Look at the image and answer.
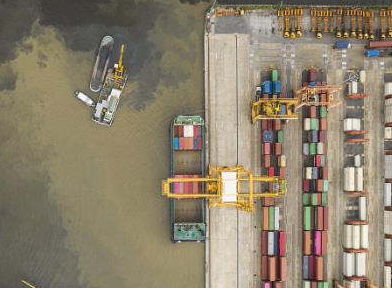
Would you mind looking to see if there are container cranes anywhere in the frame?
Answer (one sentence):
Yes, looking at the shot, I can spot a container crane.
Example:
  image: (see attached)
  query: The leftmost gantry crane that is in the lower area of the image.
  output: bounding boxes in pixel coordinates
[157,161,288,213]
